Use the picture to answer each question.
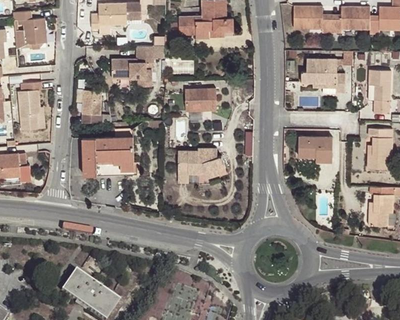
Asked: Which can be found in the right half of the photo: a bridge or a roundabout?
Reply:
roundabout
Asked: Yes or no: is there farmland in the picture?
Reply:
No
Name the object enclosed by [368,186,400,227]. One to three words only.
house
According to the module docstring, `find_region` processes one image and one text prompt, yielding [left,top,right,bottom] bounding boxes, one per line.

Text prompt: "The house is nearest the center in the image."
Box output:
[177,147,228,183]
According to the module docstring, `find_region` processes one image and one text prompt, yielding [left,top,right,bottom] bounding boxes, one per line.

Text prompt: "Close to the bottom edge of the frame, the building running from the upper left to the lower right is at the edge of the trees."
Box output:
[62,266,120,317]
